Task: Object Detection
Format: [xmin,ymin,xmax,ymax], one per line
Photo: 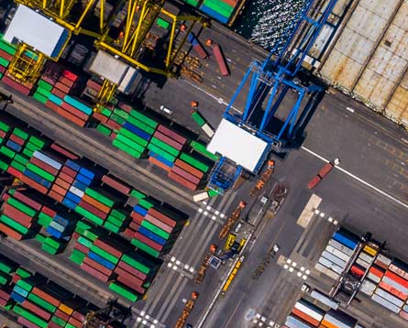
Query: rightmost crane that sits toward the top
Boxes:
[202,0,341,201]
